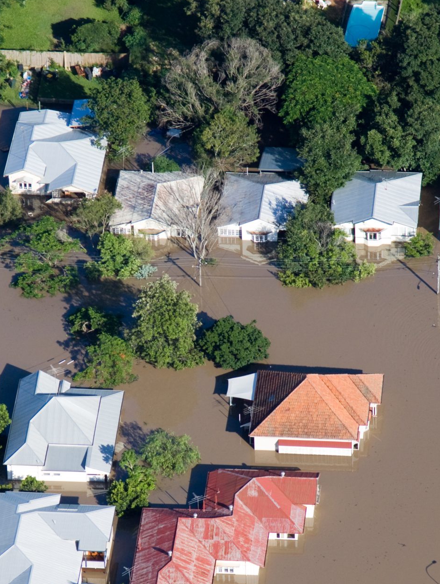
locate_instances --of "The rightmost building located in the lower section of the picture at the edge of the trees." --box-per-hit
[241,370,385,456]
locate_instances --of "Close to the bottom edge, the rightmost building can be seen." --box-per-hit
[120,469,321,584]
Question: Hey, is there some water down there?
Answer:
Yes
